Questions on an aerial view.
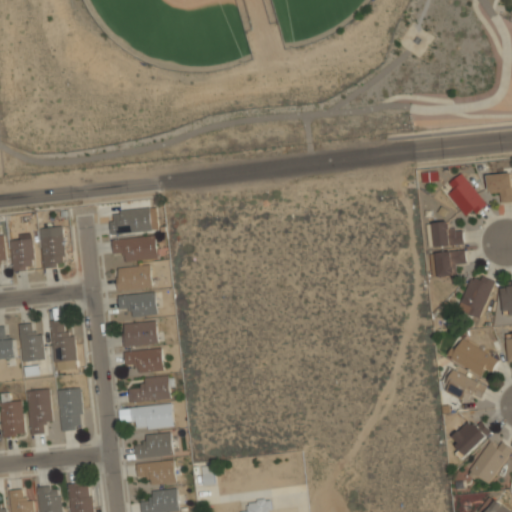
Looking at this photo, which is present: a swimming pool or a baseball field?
baseball field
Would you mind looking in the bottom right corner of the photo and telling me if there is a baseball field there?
No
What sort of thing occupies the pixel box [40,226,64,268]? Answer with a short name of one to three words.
house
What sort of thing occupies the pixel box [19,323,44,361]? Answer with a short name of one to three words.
house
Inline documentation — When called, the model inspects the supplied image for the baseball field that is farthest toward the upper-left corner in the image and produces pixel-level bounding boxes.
[83,0,252,72]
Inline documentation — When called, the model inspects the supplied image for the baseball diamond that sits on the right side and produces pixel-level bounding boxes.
[271,0,372,48]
